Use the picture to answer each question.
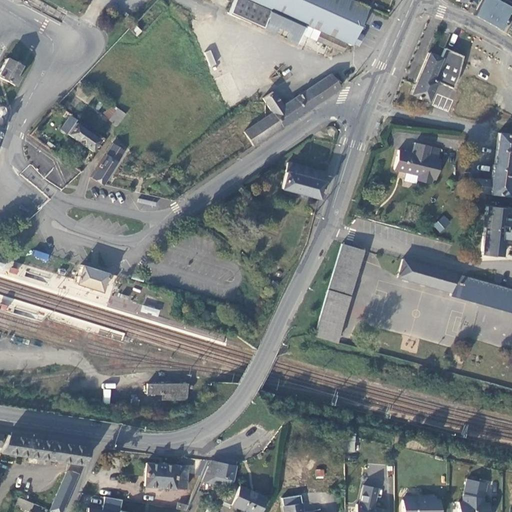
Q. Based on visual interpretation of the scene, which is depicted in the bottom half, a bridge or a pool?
bridge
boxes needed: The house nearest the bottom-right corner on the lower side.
[460,479,494,512]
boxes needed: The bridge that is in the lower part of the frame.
[228,334,285,406]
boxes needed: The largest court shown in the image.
[371,282,464,343]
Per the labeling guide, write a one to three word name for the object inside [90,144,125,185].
house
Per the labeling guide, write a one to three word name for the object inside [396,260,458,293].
building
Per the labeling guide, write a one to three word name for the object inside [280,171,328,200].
house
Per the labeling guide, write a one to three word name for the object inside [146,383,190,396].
shed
